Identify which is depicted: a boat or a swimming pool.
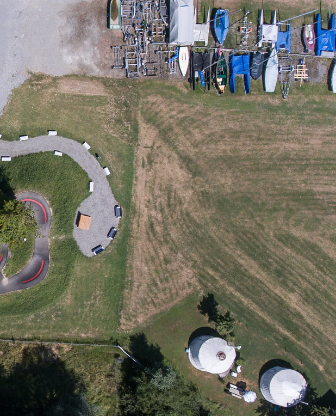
boat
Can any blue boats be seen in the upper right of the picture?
Yes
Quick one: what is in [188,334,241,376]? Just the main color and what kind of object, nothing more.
white tent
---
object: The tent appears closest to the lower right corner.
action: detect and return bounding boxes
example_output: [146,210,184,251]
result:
[260,365,312,408]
